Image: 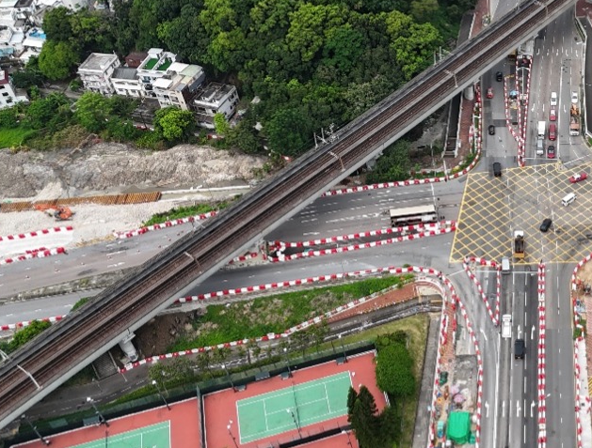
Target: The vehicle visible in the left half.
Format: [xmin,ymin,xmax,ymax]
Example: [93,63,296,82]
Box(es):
[43,193,75,218]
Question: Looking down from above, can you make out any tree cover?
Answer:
Yes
